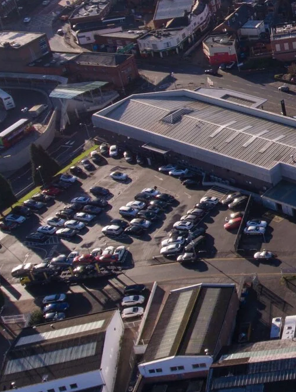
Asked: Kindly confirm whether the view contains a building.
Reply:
Yes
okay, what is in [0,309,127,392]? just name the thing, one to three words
building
